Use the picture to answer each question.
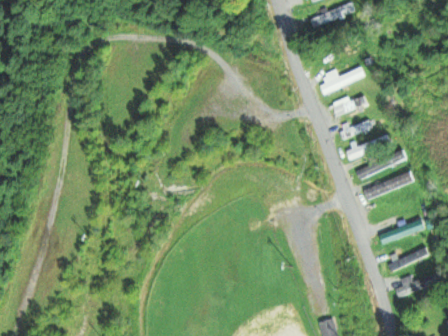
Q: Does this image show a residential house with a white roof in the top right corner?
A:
Yes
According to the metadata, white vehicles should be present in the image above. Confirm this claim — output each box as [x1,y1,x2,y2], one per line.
[377,255,390,262]
[338,148,345,159]
[324,54,334,64]
[359,194,368,206]
[314,70,325,81]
